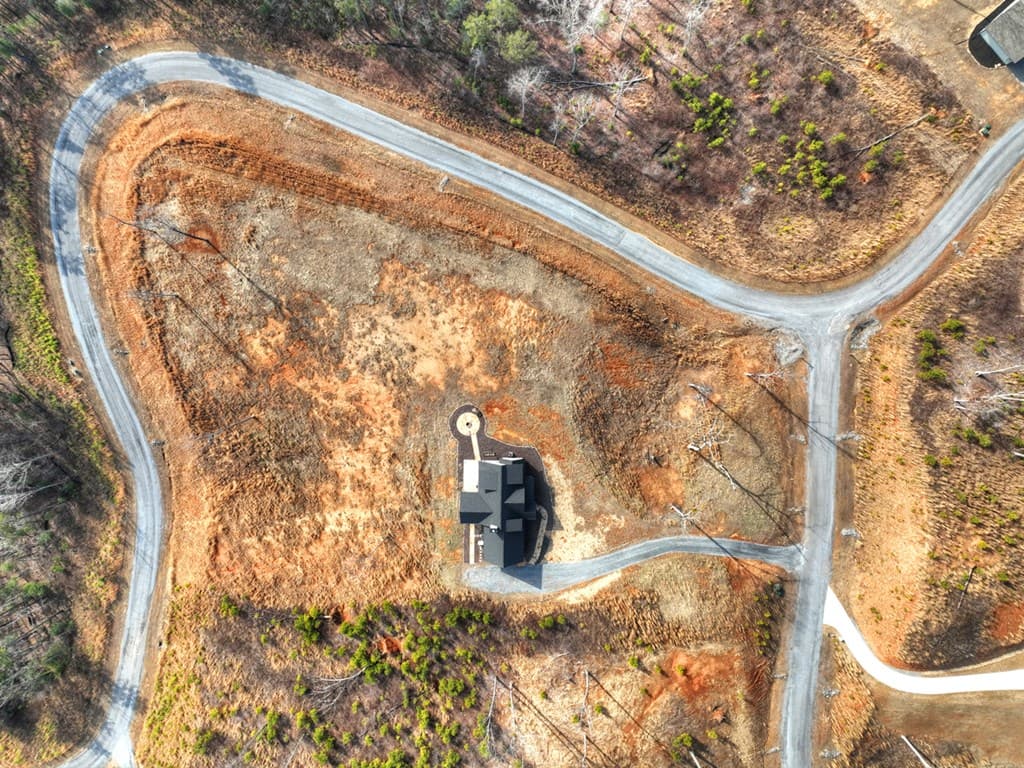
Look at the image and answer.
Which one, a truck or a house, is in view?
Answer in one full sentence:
There is a house in the scene.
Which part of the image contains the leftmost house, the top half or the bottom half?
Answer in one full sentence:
It is in the bottom half that the leftmost house appears.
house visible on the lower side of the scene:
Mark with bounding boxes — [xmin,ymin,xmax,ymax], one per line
[459,457,536,568]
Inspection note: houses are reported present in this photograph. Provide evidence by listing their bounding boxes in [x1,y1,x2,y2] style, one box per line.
[459,457,536,568]
[967,0,1024,74]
